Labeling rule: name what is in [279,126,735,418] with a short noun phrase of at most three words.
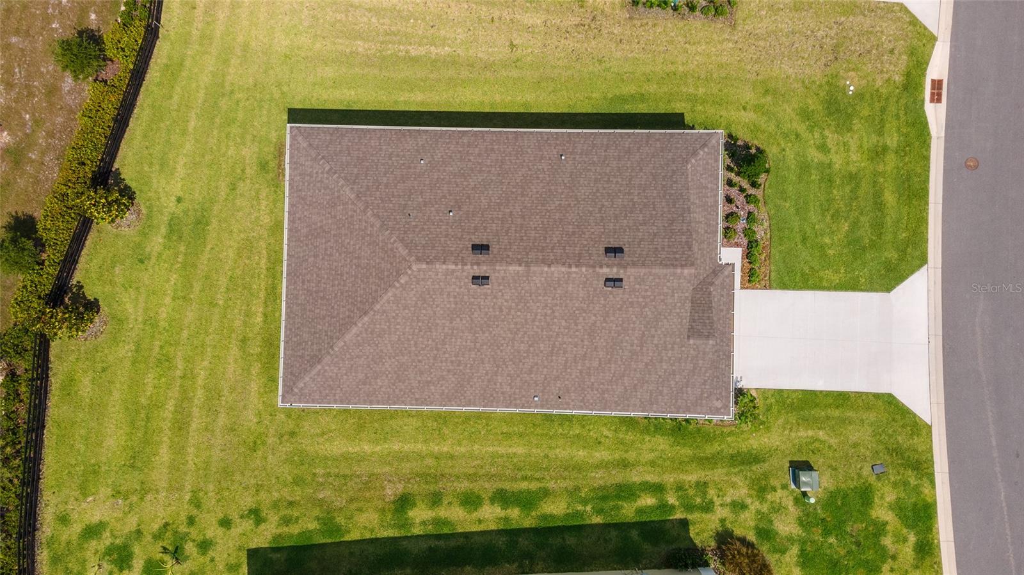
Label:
house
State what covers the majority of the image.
grass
